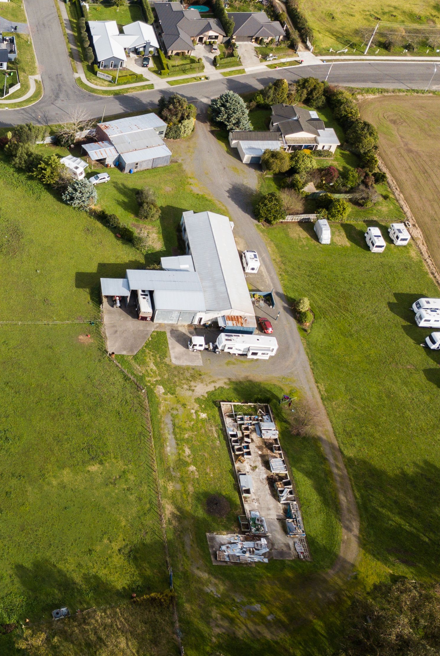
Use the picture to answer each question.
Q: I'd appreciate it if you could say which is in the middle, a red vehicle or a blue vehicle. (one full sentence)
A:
What appears in the middle is a red vehicle.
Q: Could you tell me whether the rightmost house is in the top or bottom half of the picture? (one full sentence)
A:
The rightmost house sits in the top half of the picture.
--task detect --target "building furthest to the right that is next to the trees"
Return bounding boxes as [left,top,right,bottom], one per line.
[264,107,340,154]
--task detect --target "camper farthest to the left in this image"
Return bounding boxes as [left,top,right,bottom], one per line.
[63,151,87,177]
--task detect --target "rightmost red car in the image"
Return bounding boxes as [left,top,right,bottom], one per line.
[258,316,276,332]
